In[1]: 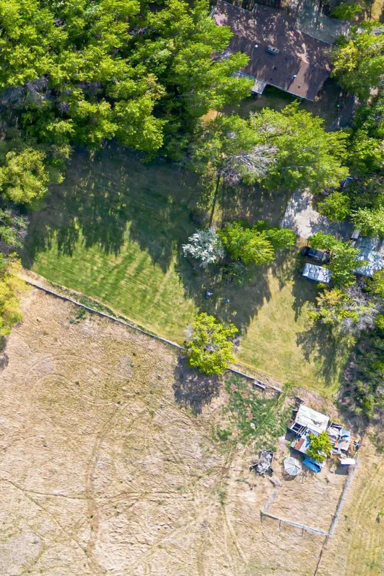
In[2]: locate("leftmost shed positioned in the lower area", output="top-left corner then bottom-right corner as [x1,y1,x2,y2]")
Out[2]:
[288,402,329,461]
